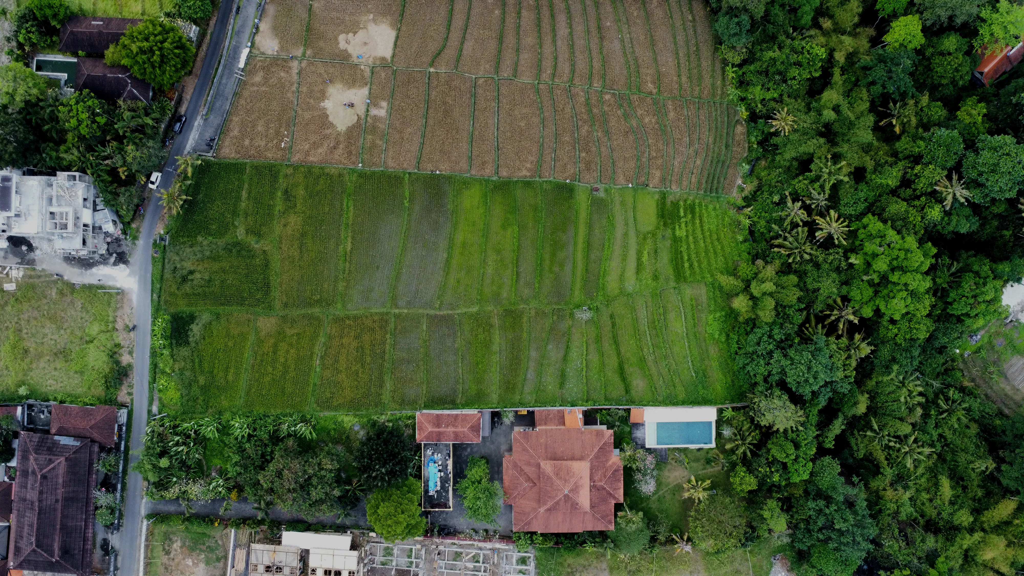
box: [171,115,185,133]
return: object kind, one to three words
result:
car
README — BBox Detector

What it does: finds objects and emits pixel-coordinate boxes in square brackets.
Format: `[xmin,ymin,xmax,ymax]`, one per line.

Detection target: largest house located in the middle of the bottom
[503,423,624,532]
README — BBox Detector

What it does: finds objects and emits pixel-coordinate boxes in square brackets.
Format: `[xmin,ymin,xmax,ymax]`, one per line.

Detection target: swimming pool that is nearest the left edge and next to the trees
[34,57,76,91]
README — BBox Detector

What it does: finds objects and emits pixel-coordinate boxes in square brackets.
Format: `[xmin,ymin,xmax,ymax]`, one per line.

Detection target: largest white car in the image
[148,171,161,190]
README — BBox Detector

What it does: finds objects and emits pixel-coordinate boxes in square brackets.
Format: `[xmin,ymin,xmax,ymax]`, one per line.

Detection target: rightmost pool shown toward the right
[645,420,716,448]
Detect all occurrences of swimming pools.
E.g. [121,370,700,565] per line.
[645,420,716,448]
[34,57,76,91]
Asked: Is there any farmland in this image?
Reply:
Yes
